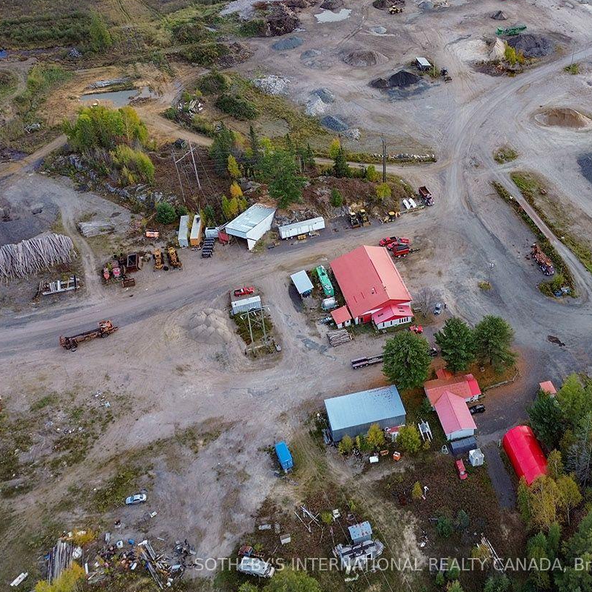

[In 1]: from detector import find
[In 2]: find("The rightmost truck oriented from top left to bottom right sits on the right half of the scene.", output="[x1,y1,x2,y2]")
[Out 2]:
[532,242,554,270]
